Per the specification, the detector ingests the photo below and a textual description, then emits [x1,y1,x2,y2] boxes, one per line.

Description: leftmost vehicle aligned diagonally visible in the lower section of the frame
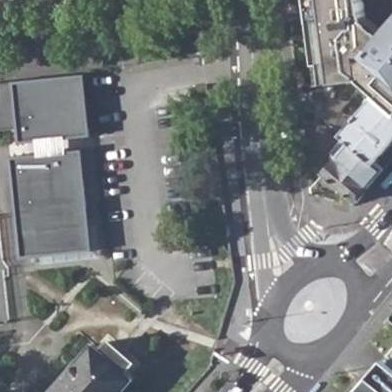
[240,366,259,386]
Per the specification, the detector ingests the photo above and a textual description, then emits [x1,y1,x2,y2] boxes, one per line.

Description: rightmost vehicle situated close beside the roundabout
[378,211,392,230]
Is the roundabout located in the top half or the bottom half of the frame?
bottom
